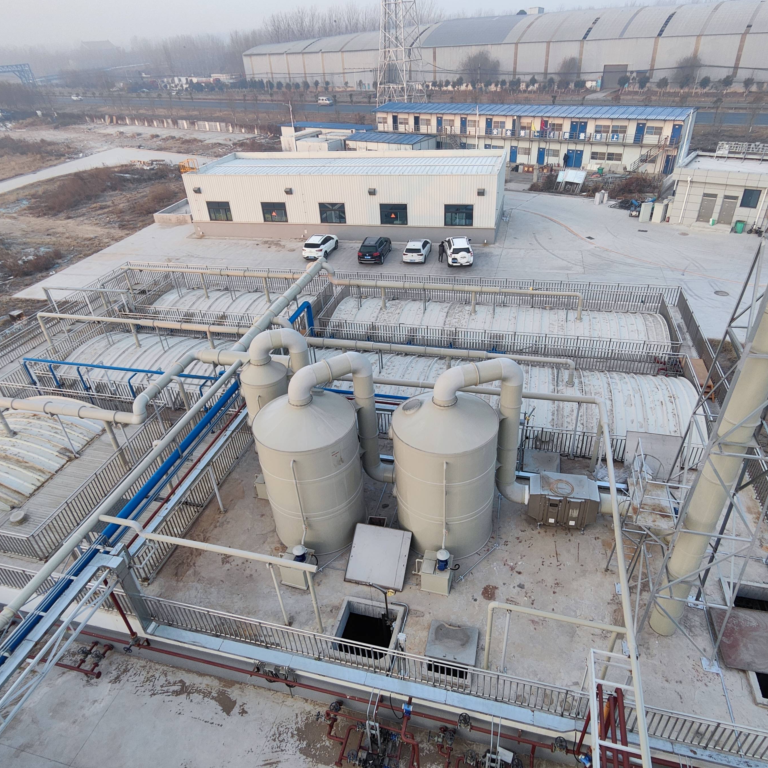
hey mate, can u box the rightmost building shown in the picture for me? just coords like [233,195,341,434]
[671,138,768,232]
